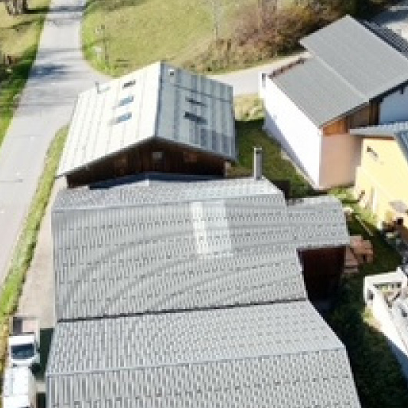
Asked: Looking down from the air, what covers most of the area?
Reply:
buildings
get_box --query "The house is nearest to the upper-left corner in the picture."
[55,61,239,183]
